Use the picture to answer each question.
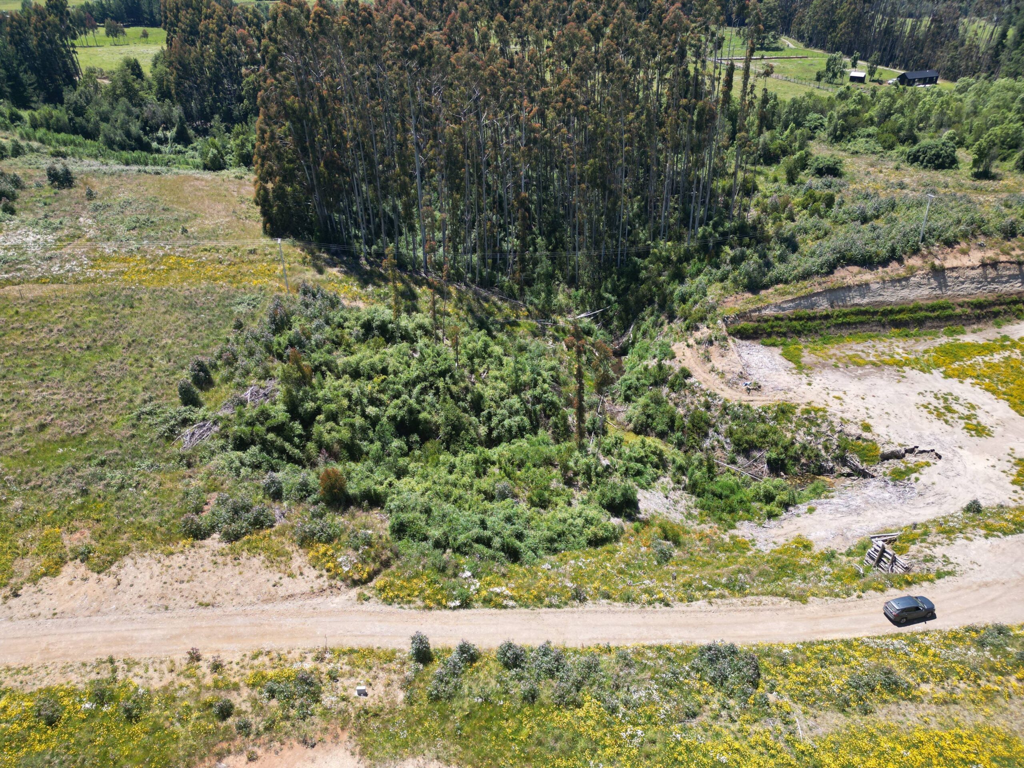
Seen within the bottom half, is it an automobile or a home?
automobile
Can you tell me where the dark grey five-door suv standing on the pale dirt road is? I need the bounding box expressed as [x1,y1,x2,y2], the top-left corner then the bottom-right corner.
[882,589,939,621]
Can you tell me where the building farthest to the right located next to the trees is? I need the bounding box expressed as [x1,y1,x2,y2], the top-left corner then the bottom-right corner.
[897,62,949,87]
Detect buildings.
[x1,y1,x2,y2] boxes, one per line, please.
[897,62,949,87]
[846,67,866,82]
